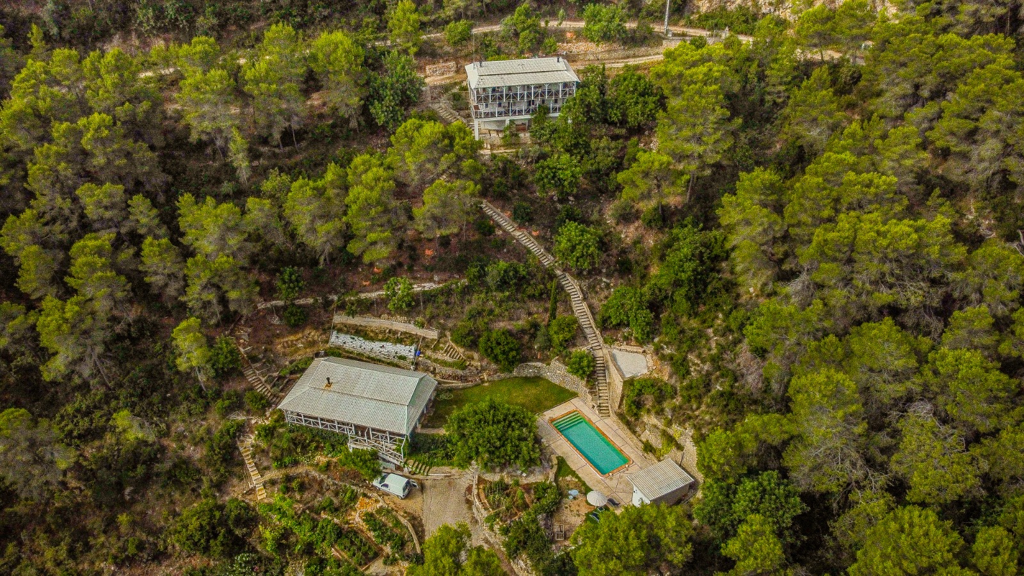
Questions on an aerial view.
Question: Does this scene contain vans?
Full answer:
Yes, a van is visible in the scene.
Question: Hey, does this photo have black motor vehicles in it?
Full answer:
No, there isn't any black motor vehicle down there.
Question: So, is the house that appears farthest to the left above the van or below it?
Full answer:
Looking at the scene, the house that appears farthest to the left is located above the van.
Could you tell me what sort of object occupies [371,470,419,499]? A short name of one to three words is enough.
van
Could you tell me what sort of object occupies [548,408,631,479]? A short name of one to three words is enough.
swimming pool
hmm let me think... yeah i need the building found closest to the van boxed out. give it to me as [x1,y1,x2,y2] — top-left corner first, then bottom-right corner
[278,357,434,471]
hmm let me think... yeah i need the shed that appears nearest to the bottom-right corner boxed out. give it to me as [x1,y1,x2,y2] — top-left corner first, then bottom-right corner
[627,459,695,513]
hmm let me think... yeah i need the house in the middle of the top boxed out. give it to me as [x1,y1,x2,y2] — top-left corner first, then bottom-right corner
[468,50,580,136]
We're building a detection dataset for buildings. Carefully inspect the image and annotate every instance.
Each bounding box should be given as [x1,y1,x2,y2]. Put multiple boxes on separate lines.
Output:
[278,357,434,471]
[627,459,695,513]
[468,50,580,136]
